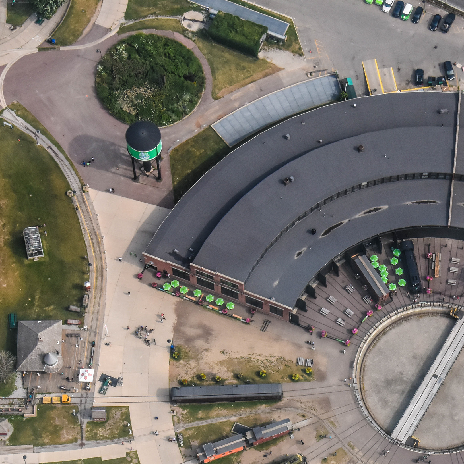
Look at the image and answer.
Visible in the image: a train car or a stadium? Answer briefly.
train car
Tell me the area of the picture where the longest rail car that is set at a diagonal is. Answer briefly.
right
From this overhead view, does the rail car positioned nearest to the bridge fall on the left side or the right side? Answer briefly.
right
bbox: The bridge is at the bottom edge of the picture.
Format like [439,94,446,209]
[393,309,464,446]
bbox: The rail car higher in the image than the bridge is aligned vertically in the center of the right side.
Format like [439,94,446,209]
[400,239,422,298]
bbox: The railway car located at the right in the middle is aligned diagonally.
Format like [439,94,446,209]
[355,256,390,302]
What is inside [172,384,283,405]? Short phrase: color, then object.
gray rail car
